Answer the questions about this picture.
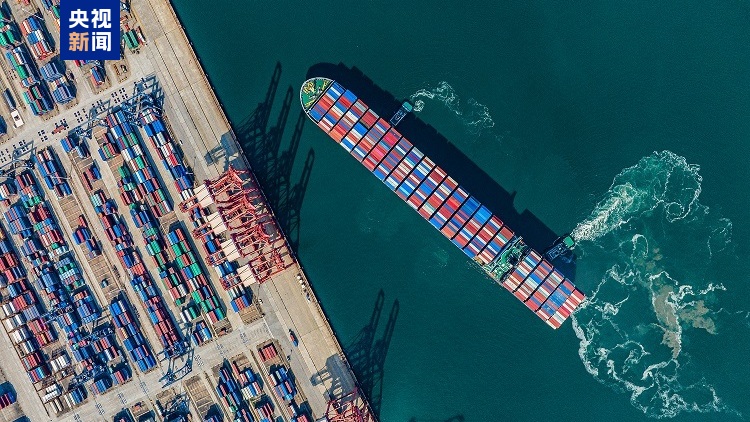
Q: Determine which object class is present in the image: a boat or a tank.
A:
boat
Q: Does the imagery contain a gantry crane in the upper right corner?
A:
No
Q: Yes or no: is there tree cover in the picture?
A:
No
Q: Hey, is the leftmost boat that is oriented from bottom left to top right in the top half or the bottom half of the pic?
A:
top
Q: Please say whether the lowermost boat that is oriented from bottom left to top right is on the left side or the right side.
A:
right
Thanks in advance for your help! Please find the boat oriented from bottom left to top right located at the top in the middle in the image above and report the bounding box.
[391,100,412,127]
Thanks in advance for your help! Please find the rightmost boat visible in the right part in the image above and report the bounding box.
[546,235,575,259]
